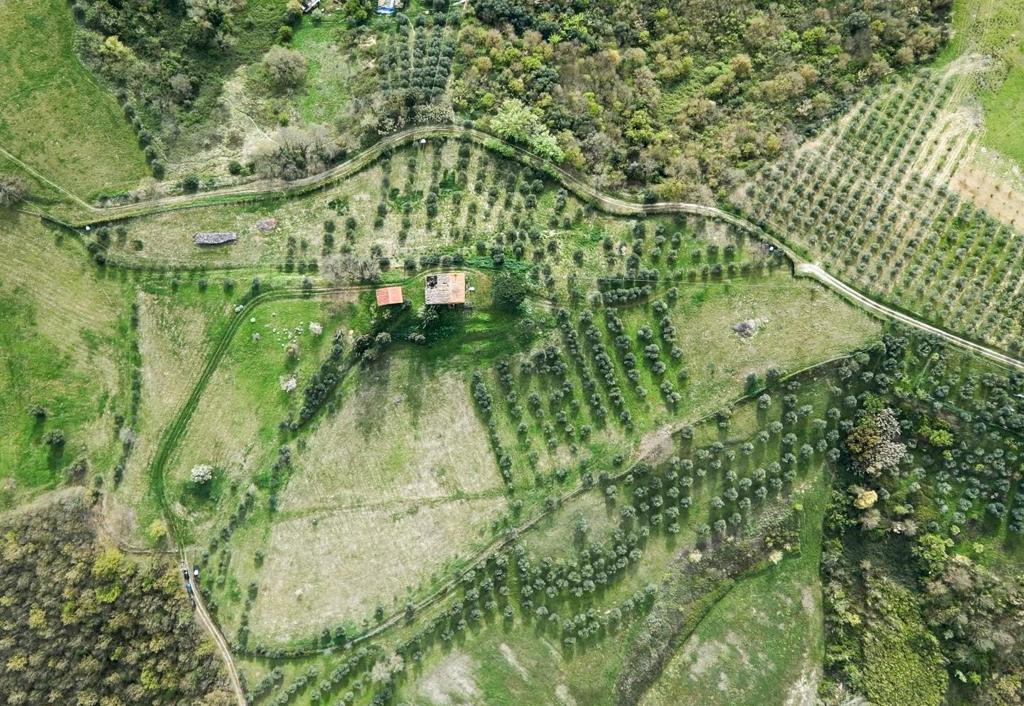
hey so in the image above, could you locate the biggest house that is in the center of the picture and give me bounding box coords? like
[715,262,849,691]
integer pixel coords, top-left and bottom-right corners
[425,271,466,305]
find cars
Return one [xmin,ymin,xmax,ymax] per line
[183,568,191,580]
[187,582,195,595]
[191,597,199,609]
